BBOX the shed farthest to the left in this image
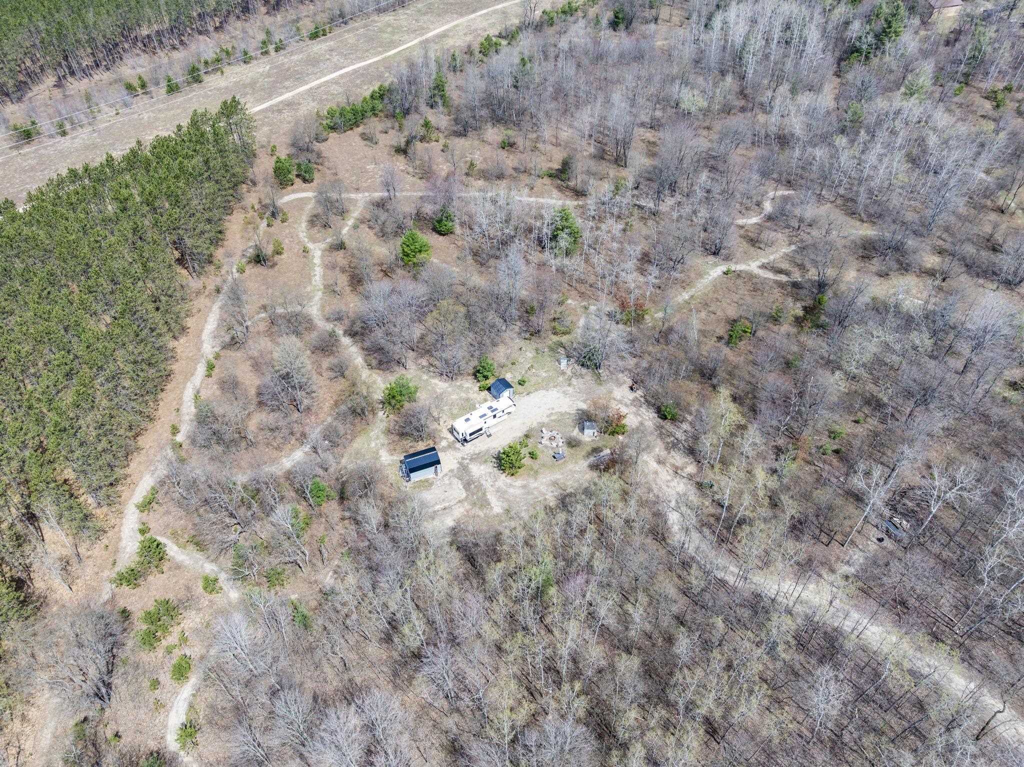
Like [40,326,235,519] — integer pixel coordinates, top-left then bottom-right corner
[403,447,441,481]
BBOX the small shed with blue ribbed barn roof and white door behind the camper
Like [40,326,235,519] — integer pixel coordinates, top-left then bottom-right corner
[490,377,514,400]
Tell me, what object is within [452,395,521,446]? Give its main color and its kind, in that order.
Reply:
white vehicle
